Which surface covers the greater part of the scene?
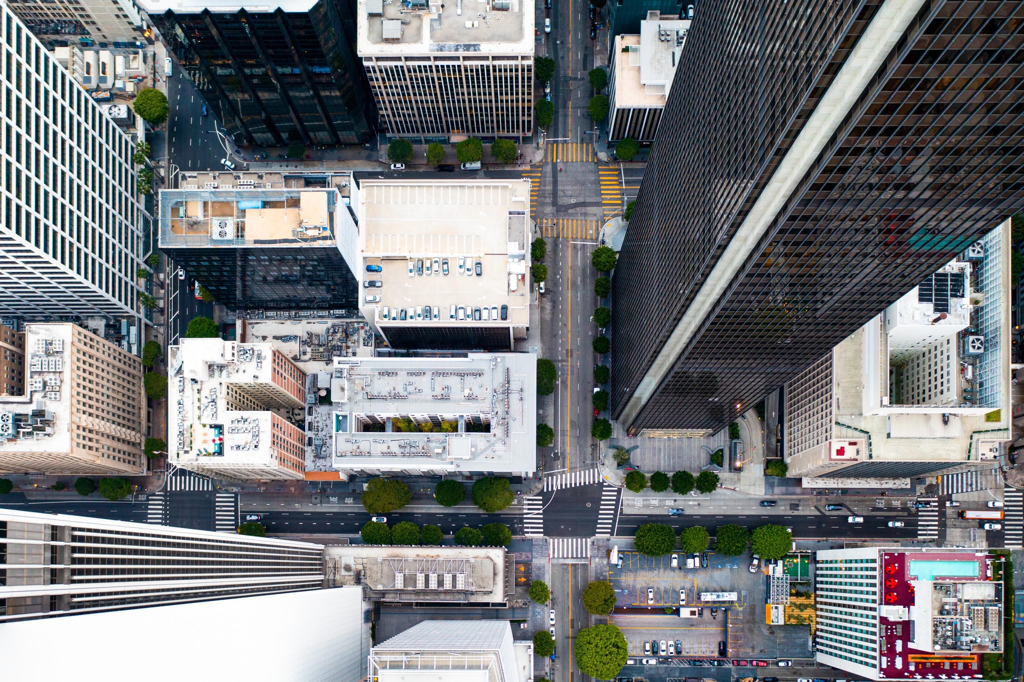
buildings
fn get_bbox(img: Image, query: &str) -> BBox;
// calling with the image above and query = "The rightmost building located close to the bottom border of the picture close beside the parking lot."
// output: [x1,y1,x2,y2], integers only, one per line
[819,543,1011,680]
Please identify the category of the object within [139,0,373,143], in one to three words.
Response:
building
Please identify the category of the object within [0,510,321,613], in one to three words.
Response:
building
